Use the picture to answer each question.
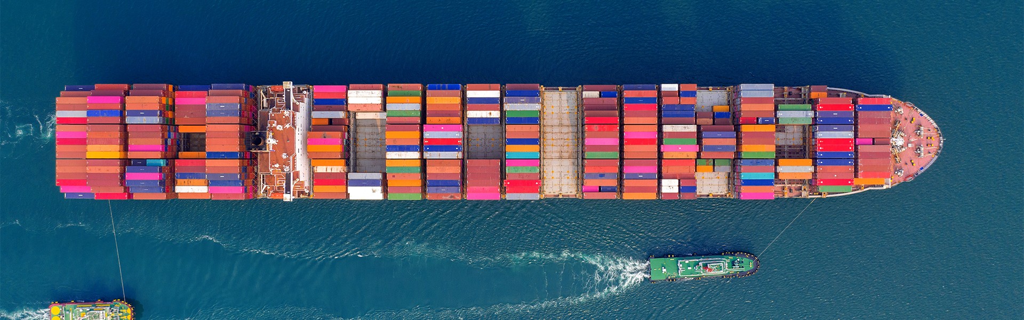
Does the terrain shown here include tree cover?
No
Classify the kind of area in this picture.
port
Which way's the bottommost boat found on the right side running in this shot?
from side to side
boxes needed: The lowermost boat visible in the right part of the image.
[648,251,761,283]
